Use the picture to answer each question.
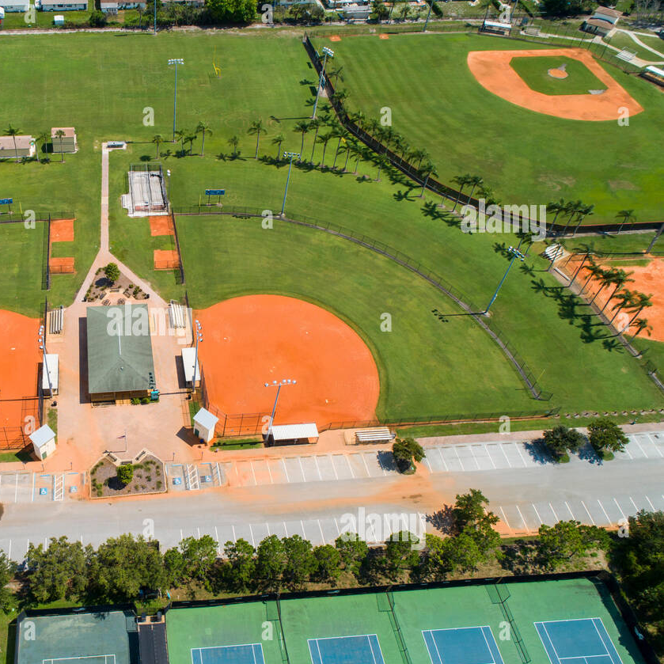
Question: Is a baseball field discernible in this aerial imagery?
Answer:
Yes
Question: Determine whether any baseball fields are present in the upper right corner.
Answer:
Yes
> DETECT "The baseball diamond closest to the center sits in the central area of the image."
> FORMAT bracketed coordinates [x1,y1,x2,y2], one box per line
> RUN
[173,212,546,434]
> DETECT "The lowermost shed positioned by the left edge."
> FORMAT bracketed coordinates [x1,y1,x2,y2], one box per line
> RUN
[29,424,55,458]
